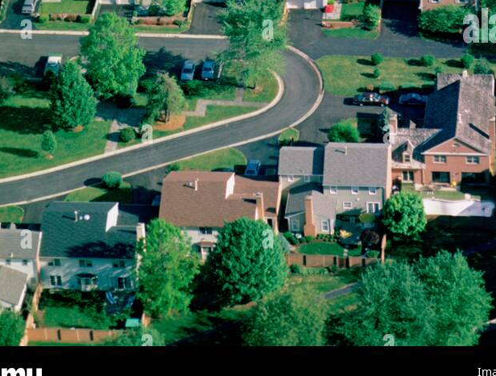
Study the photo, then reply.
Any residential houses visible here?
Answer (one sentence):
Yes, there's a residential house here.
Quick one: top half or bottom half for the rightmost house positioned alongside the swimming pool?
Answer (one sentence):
The rightmost house positioned alongside the swimming pool is in the top half of the image.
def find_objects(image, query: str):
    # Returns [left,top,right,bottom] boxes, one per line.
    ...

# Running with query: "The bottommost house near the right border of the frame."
[388,71,496,184]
